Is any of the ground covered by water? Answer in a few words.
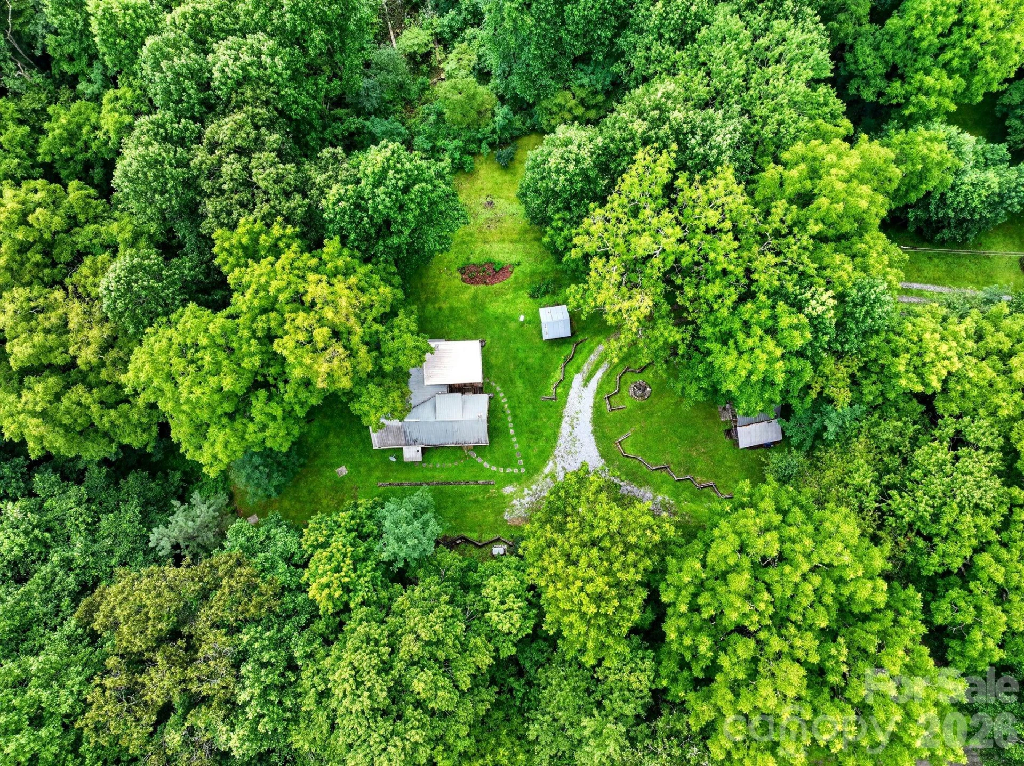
No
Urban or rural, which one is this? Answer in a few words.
rural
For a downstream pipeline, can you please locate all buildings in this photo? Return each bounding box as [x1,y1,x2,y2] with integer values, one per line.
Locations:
[734,401,782,448]
[366,339,492,461]
[539,305,571,343]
